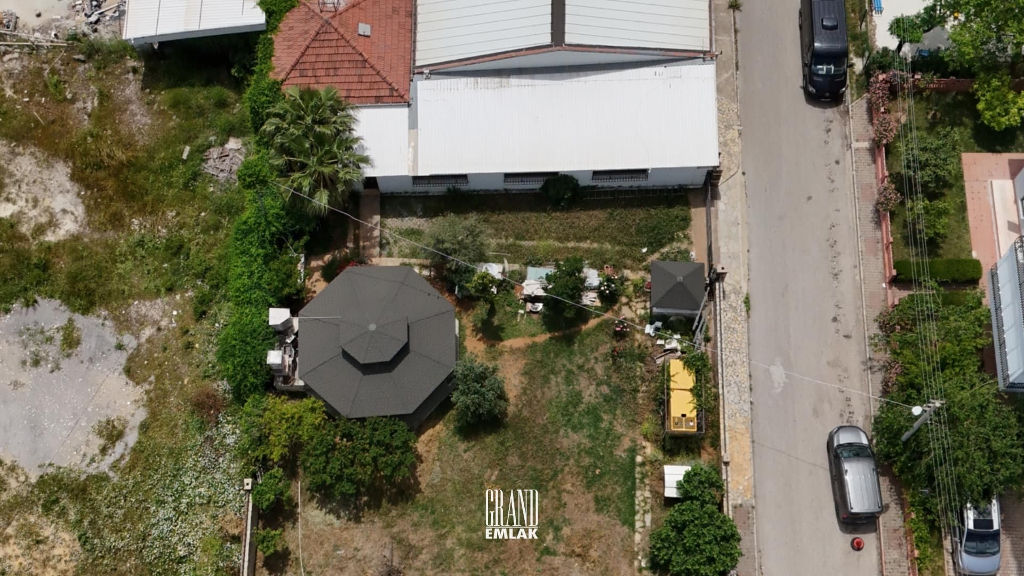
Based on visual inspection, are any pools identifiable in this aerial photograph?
No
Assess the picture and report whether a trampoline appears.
No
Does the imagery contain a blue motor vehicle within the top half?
No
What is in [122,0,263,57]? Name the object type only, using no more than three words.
shed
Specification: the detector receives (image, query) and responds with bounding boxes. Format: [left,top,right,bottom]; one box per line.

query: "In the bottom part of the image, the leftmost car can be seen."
[831,424,885,529]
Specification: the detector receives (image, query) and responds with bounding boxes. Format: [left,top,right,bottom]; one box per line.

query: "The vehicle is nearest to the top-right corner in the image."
[797,0,855,100]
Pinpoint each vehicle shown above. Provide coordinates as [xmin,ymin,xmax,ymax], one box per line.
[955,490,1006,576]
[797,0,855,100]
[831,424,885,529]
